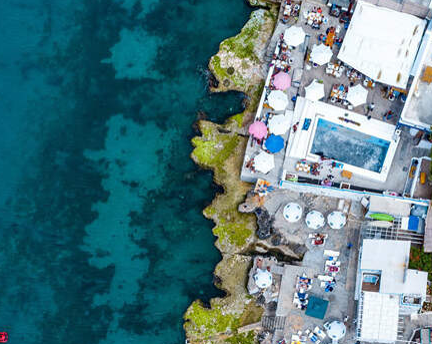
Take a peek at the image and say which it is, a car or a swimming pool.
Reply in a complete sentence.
It is a swimming pool that can be seen here.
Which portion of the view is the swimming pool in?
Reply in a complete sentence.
You can find the swimming pool in the right area of the picture.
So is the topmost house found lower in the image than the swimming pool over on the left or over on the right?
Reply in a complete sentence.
The topmost house found lower in the image than the swimming pool is on the right side of the image.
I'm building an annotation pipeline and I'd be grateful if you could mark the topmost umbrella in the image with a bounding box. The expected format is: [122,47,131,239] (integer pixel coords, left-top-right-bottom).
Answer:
[285,26,306,47]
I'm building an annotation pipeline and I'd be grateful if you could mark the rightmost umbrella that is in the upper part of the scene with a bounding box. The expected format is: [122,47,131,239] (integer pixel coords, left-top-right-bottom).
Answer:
[348,84,367,106]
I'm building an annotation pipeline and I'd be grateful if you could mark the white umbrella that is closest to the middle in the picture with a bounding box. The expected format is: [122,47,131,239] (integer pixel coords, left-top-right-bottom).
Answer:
[254,153,276,175]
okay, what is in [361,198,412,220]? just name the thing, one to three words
house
